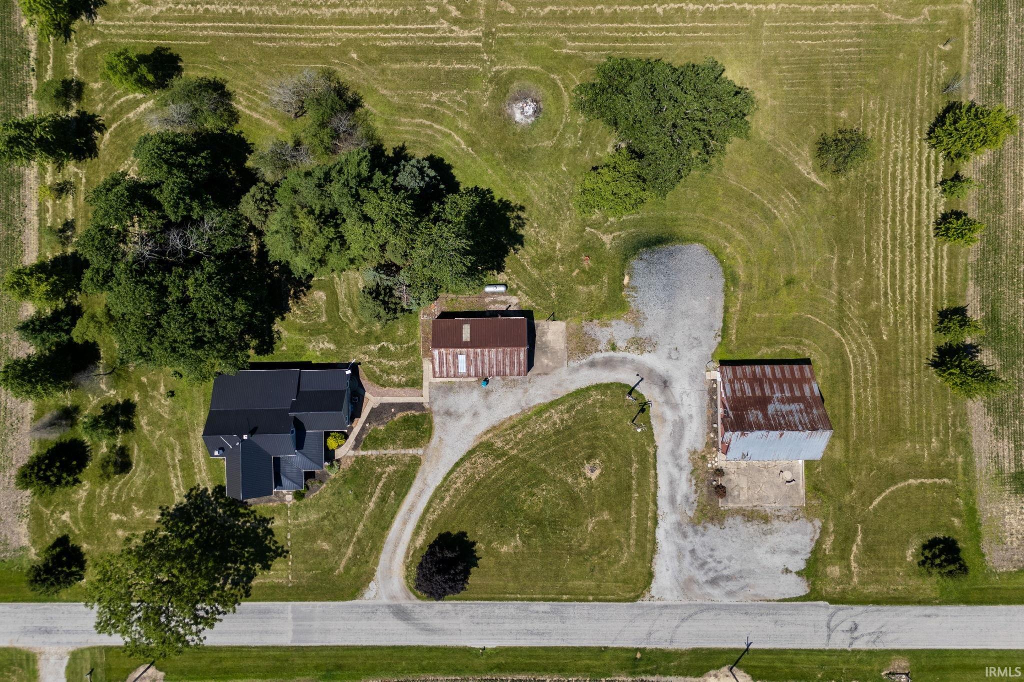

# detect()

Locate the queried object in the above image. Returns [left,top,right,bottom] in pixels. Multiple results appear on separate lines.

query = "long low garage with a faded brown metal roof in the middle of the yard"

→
[430,315,529,378]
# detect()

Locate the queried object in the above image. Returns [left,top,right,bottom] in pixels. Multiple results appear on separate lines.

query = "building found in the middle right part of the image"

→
[718,363,833,461]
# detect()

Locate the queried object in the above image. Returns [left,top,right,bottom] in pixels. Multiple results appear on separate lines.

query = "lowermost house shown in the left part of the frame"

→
[202,357,359,501]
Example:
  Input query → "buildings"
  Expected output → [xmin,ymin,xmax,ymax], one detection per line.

[202,357,359,501]
[718,363,833,461]
[430,315,529,378]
